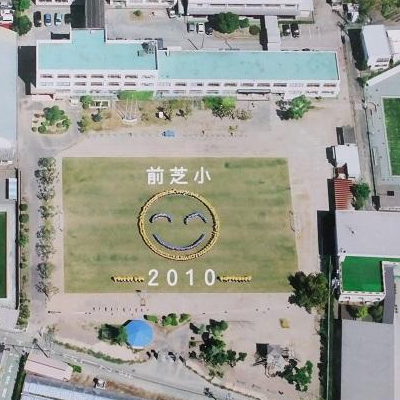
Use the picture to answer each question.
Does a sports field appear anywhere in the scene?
Yes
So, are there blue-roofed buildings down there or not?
Yes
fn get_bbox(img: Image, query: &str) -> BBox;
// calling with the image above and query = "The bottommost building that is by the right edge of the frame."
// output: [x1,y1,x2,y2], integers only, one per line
[341,322,395,400]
